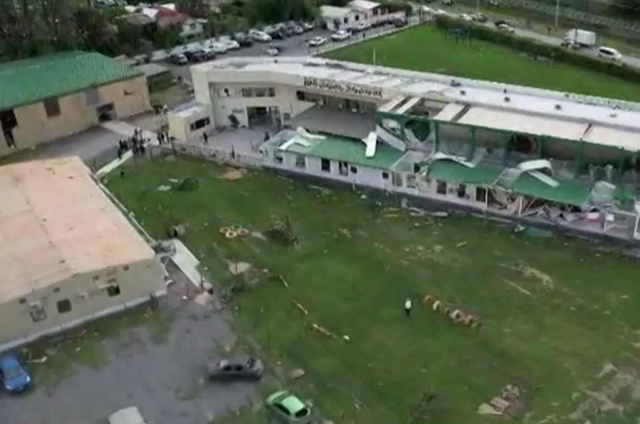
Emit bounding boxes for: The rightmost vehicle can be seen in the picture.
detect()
[598,46,623,61]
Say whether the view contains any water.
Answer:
No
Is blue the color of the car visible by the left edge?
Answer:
Yes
